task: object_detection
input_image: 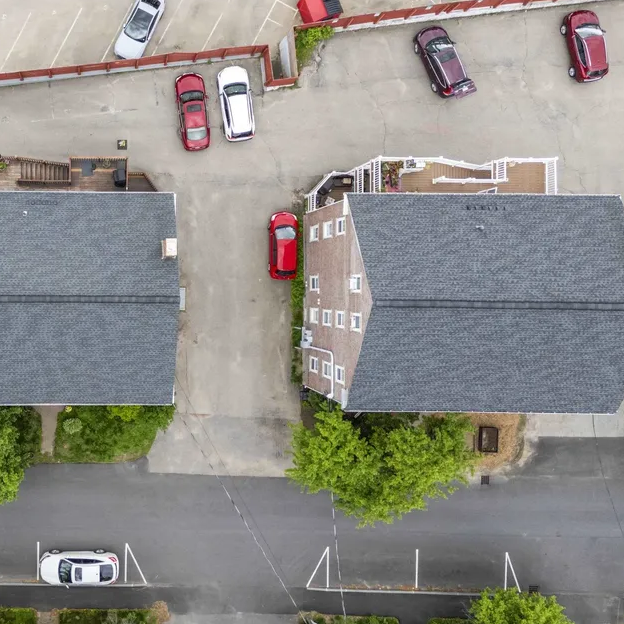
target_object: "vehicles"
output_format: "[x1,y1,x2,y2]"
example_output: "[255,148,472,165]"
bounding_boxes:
[38,549,119,589]
[216,67,258,143]
[173,74,211,151]
[115,0,165,60]
[411,22,475,99]
[266,211,303,282]
[559,9,610,85]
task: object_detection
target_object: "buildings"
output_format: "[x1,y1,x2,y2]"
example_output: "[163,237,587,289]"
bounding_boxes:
[301,194,624,417]
[0,192,180,406]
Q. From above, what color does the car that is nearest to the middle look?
red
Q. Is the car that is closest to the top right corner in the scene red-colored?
Yes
